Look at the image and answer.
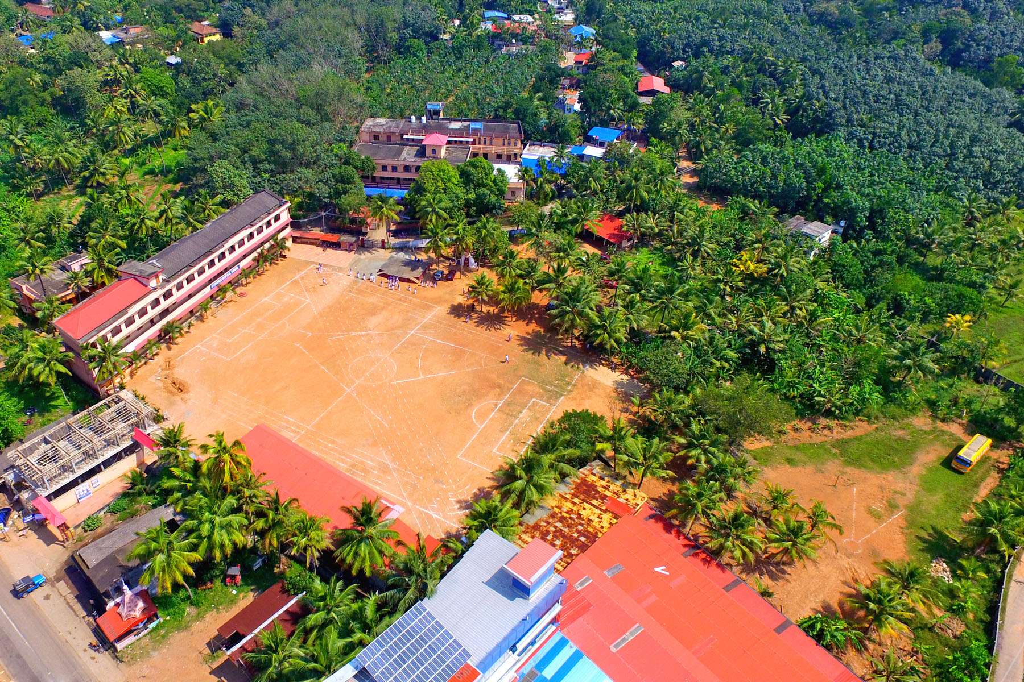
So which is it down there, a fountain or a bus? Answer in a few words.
bus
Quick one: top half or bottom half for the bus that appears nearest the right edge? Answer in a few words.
bottom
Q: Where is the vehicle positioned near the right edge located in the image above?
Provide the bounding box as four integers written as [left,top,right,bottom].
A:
[956,427,998,470]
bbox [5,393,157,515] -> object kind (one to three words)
building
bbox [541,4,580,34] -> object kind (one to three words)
house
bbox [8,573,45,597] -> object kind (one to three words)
car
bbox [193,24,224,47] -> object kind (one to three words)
house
